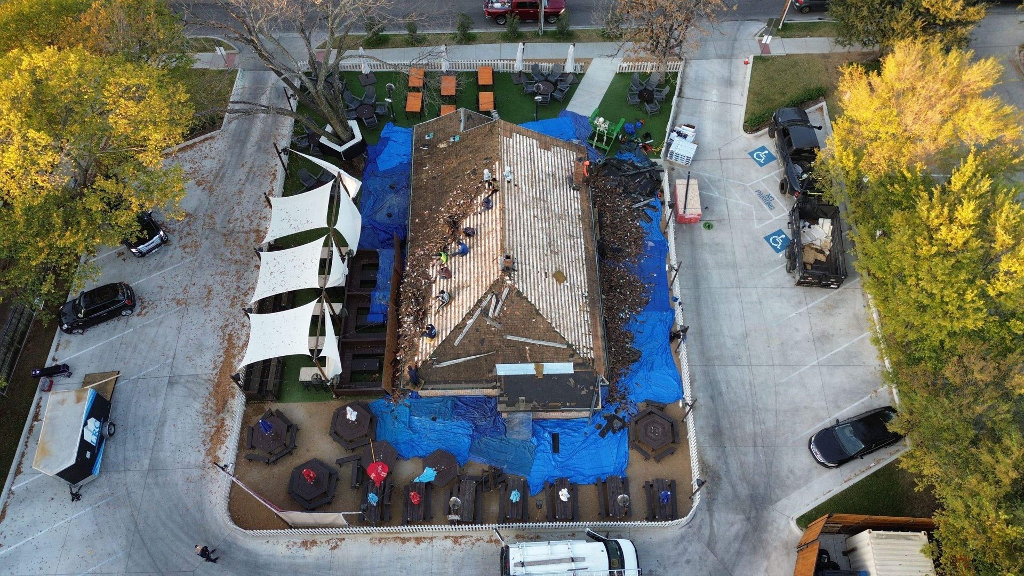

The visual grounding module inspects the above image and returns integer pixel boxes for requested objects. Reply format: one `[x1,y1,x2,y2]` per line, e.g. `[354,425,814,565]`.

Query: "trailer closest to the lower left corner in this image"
[28,388,111,500]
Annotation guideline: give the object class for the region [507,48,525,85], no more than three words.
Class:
umbrella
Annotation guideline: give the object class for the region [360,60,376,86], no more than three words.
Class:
umbrella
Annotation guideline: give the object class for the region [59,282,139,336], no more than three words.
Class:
car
